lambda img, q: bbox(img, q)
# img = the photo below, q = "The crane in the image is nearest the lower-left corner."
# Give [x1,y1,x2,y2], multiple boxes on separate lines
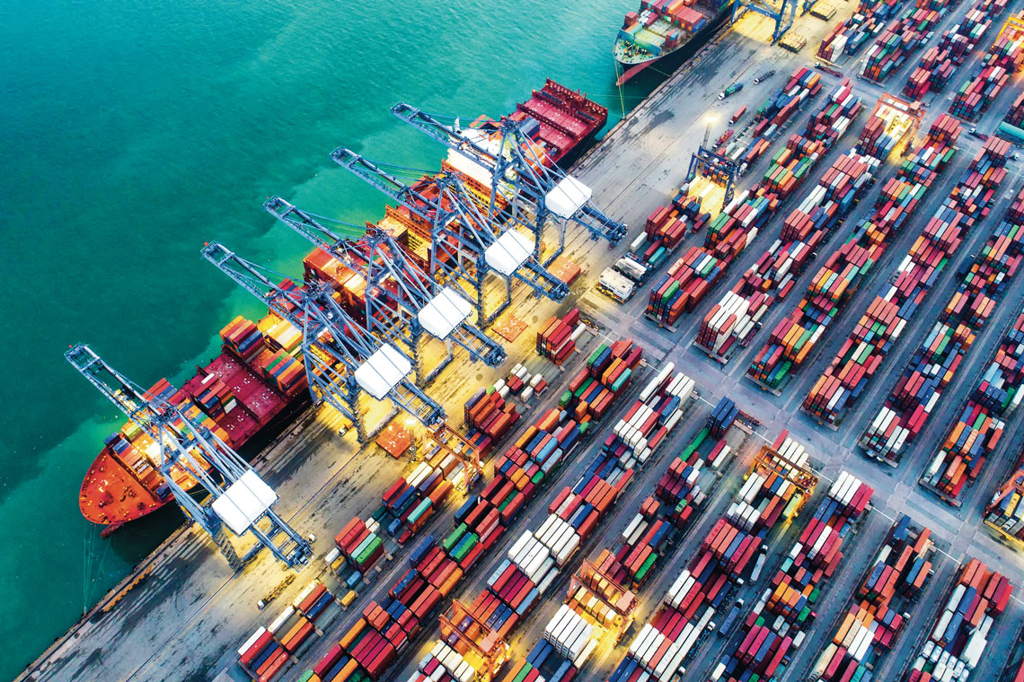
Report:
[56,341,317,569]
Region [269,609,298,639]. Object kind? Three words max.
shipping container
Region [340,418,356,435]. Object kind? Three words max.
vehicle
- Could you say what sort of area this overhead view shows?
port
